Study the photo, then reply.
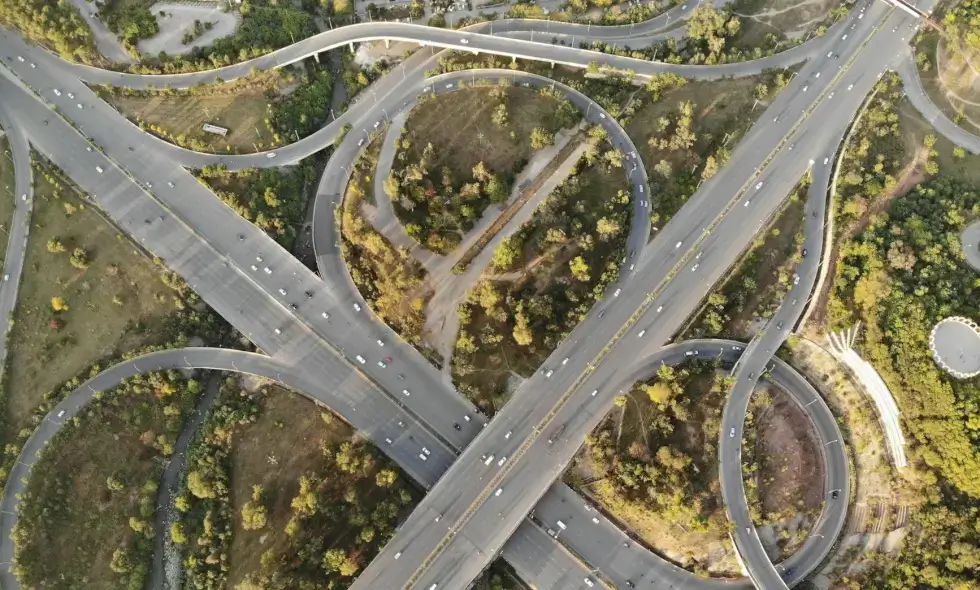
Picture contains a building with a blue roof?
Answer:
No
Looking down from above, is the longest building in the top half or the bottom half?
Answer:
bottom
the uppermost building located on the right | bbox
[827,320,906,468]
